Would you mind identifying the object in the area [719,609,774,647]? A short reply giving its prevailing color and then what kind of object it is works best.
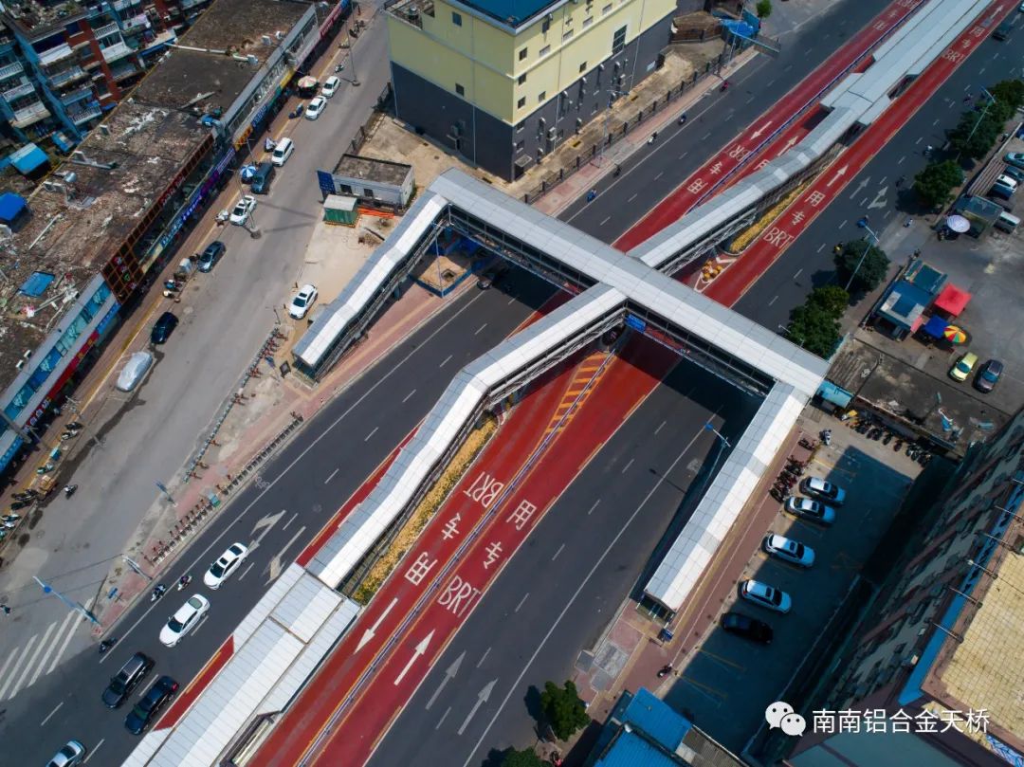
black car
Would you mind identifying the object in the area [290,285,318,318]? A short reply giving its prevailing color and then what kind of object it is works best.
white car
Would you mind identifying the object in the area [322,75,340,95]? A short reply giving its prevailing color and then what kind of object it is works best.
white car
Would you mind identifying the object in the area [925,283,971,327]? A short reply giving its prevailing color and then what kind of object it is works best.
red gazebo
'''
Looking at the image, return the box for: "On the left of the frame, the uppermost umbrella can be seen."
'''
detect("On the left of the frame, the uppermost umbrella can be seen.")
[297,78,320,98]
